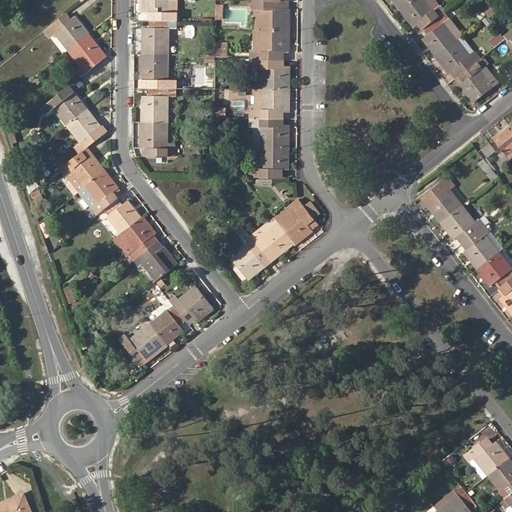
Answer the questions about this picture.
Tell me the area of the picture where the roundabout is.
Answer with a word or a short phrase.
bottom left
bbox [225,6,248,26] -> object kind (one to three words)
swimming pool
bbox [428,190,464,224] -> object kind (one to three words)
house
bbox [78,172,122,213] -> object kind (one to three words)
house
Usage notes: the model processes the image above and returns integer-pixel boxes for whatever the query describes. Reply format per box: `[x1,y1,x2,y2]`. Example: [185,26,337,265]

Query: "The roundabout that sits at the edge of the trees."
[0,370,127,500]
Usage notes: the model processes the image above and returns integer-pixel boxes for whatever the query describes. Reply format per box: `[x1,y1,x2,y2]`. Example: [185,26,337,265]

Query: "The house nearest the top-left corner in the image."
[43,10,88,53]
